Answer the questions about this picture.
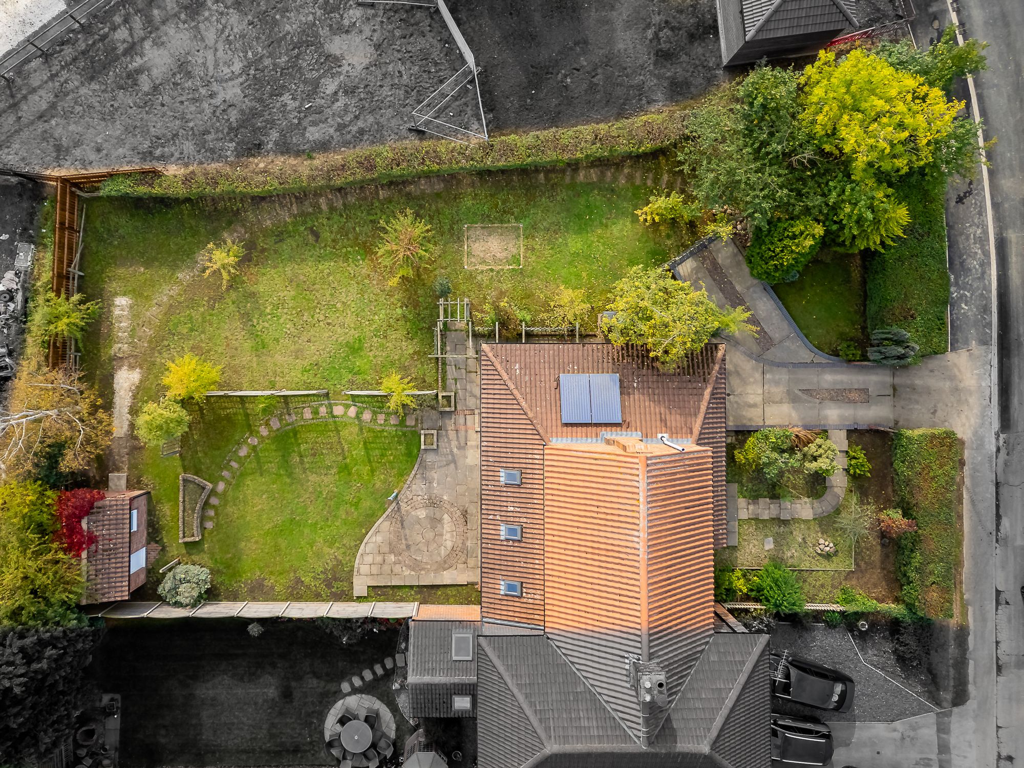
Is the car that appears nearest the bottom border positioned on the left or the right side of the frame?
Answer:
right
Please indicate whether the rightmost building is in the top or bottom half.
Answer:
top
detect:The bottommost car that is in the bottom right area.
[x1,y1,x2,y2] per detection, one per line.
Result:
[765,721,836,768]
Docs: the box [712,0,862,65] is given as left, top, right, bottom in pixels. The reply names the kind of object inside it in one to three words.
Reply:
building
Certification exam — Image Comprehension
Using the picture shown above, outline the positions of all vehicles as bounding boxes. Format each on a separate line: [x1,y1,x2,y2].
[766,642,860,709]
[765,721,836,768]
